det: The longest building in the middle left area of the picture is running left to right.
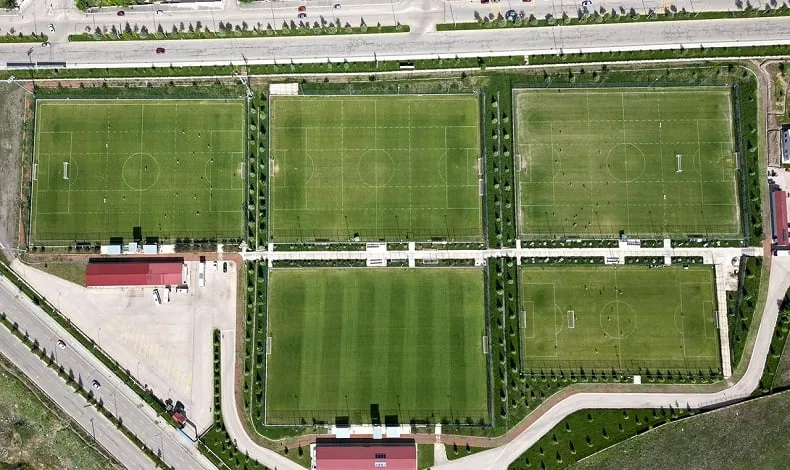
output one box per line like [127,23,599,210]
[85,262,190,289]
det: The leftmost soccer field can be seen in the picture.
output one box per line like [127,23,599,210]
[31,98,248,246]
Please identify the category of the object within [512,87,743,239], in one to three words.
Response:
soccer field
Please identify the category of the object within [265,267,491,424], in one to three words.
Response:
soccer field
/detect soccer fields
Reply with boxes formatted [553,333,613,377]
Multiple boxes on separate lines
[269,94,485,242]
[512,87,743,239]
[521,265,722,374]
[265,267,491,424]
[31,98,248,246]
